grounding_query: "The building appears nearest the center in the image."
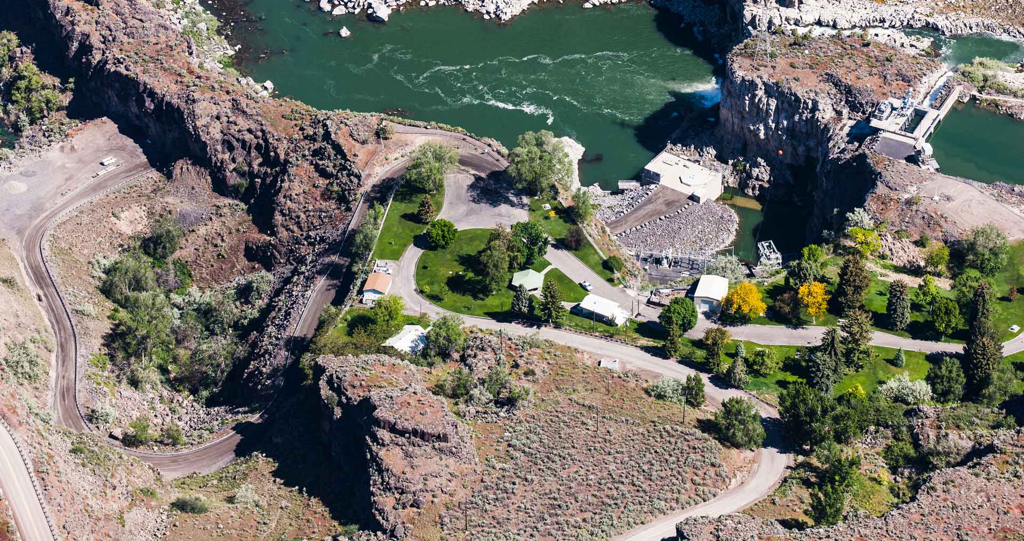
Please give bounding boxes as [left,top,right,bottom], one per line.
[511,269,545,293]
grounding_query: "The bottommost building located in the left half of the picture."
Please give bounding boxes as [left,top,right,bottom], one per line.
[381,325,427,357]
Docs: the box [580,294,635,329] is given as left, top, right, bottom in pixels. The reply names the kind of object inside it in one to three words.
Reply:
building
